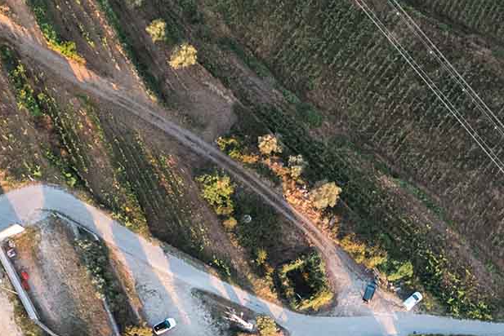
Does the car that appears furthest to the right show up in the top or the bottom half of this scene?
bottom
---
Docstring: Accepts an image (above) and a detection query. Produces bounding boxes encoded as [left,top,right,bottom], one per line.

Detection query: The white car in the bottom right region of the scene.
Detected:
[403,290,423,310]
